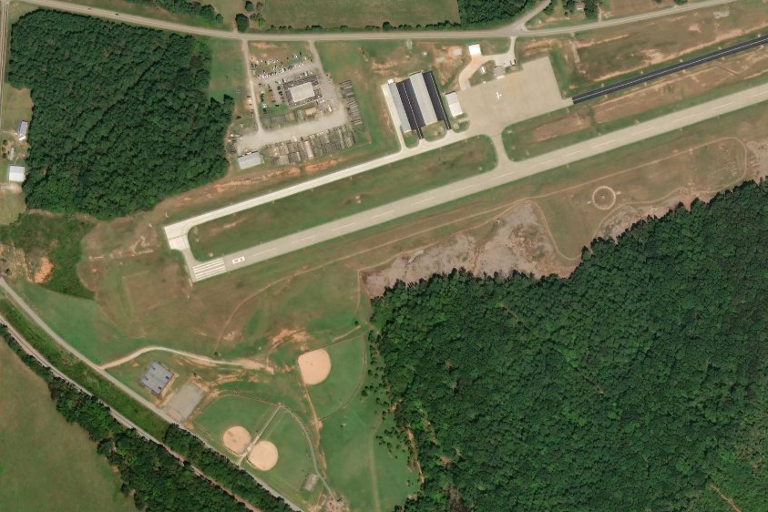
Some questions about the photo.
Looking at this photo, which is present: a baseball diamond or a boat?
baseball diamond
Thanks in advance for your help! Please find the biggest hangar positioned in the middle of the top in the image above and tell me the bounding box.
[410,73,438,125]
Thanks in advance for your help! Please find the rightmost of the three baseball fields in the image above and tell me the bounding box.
[299,336,367,427]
